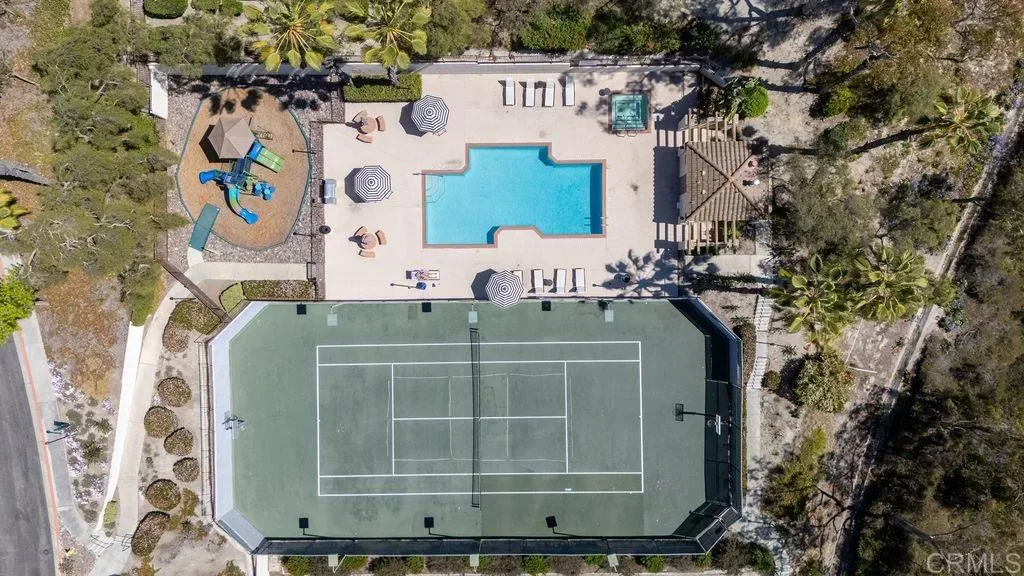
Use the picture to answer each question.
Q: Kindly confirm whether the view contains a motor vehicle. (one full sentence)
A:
No, there is no motor vehicle in the image.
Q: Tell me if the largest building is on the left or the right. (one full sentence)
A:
The largest building sits on the right side.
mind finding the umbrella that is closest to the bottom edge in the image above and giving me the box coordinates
[487,270,523,306]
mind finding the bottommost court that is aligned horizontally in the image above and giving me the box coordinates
[229,299,732,542]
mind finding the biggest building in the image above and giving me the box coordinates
[681,140,760,223]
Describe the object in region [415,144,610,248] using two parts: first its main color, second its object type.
blue swimming pool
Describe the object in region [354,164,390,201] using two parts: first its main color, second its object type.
white umbrella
